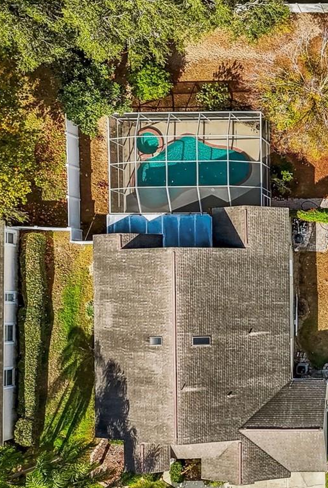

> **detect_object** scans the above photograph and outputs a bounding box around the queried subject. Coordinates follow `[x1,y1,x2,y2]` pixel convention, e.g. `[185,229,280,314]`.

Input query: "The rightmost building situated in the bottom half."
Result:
[92,206,328,485]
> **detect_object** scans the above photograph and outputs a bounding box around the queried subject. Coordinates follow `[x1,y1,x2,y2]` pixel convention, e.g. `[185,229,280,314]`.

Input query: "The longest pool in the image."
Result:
[132,133,254,210]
